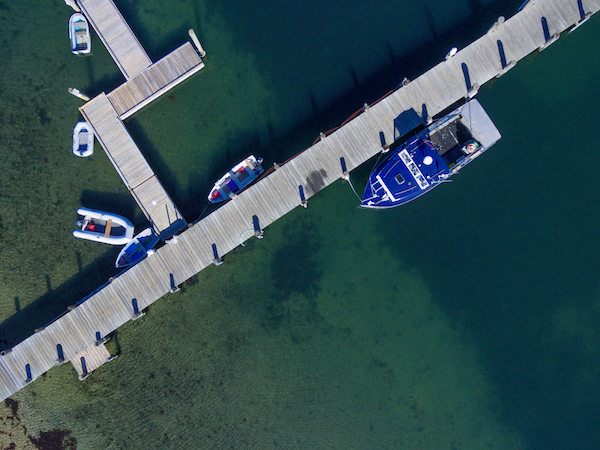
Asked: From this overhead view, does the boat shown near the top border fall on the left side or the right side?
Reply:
left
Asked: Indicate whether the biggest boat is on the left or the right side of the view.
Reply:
right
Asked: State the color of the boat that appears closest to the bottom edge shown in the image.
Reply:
blue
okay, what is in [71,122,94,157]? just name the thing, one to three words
boat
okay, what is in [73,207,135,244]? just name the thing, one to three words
boat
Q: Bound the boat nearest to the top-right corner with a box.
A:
[360,97,503,210]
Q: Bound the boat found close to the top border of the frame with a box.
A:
[71,12,92,60]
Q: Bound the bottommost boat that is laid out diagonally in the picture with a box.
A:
[114,228,161,268]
